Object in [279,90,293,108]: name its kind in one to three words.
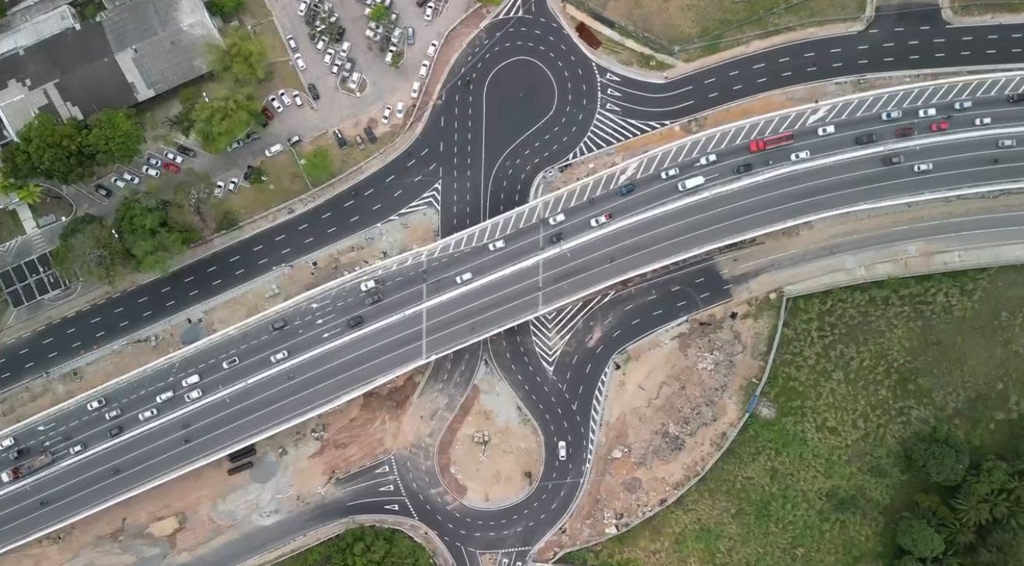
car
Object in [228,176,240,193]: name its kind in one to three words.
vehicle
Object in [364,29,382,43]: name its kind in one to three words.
car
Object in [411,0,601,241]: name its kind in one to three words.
roundabout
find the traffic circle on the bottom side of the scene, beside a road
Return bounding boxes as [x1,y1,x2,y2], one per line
[392,257,732,566]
